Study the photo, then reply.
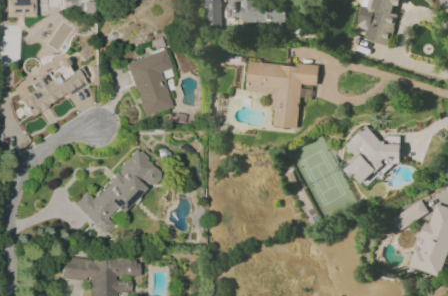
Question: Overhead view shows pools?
Yes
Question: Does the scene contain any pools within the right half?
Yes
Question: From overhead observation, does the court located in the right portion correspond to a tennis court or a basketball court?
tennis court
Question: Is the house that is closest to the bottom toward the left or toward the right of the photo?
left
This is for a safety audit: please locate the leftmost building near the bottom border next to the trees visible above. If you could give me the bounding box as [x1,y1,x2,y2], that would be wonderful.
[62,258,142,296]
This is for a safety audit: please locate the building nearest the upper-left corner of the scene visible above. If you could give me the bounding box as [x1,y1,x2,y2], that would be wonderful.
[8,0,39,17]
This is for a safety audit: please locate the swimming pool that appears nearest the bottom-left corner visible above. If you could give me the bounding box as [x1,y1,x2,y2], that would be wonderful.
[152,272,168,296]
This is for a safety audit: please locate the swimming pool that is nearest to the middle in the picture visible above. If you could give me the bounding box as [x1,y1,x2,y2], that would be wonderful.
[234,106,266,126]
